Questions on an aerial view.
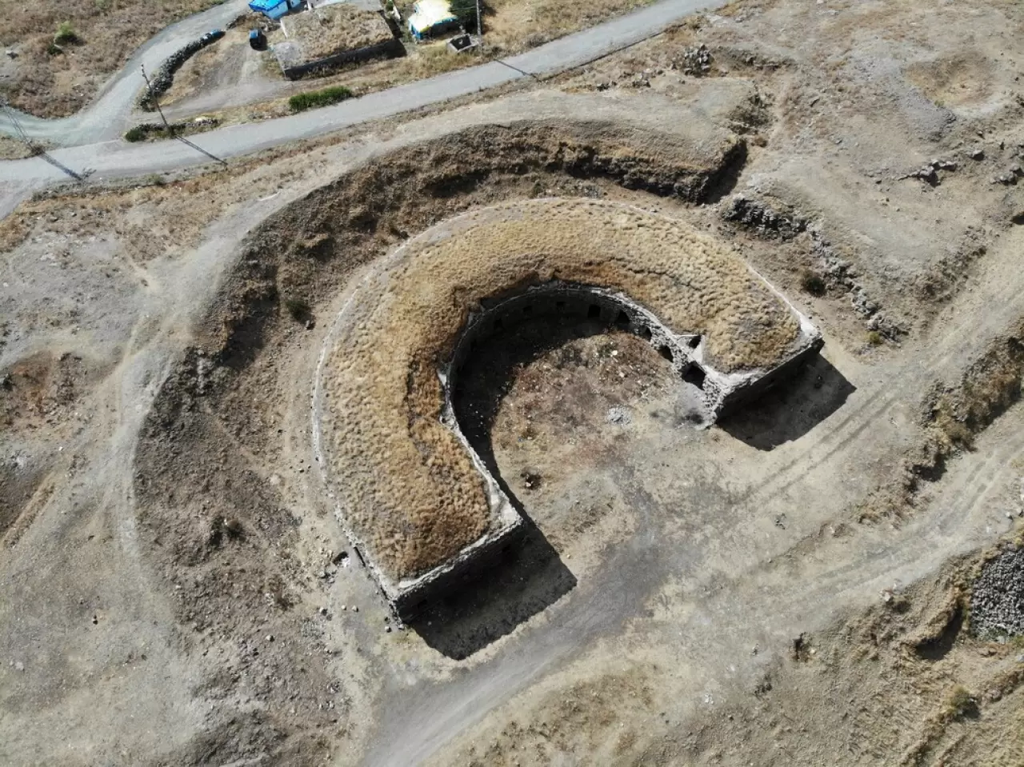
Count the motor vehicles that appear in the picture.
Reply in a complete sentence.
The photo contains no motor vehicles.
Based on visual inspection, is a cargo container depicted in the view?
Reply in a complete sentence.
No, there's no cargo container here.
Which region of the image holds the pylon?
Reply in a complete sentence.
The pylon is located in the top left region of the scene.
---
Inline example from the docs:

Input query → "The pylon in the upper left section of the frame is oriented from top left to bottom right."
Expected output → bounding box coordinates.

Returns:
[0,96,44,154]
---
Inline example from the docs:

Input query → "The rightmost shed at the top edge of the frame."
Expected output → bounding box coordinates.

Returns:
[407,0,460,45]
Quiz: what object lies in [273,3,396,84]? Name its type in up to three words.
house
